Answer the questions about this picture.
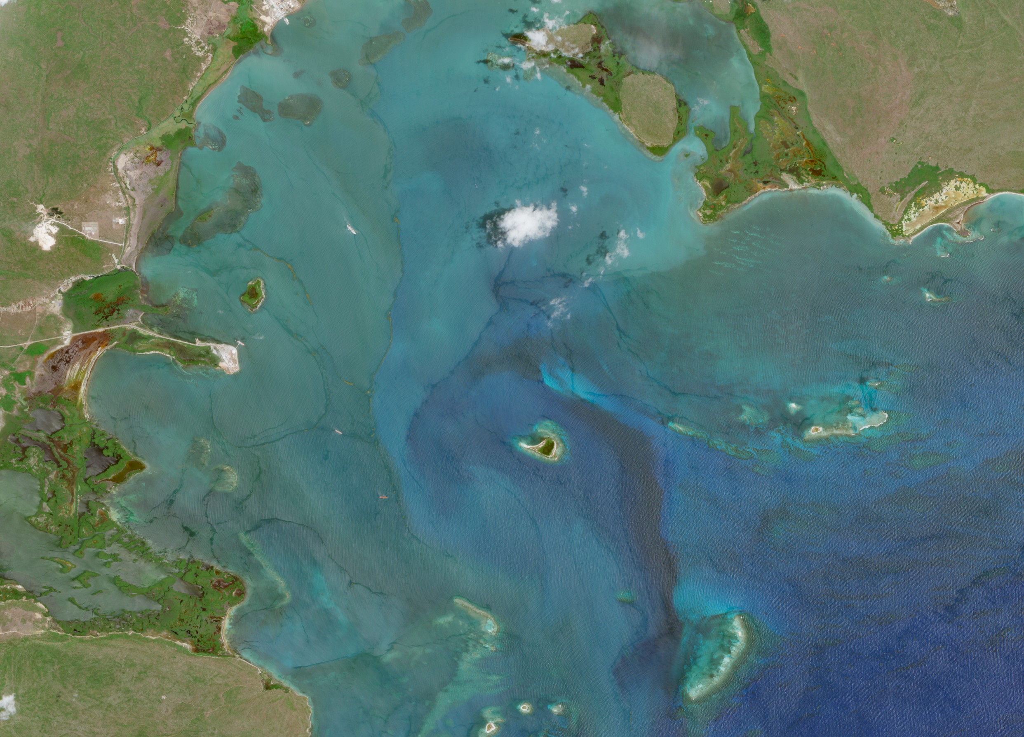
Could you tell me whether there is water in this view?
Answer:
Yes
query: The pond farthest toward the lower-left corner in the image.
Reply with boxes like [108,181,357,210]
[0,469,179,623]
